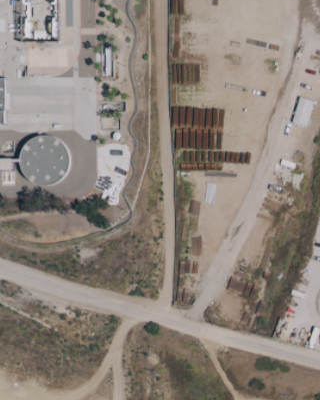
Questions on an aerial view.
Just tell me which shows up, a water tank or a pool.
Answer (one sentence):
The one in the frame is a water tank.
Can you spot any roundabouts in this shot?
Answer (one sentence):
No, this view has no roundabout in it.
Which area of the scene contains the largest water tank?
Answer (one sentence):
The largest water tank appears toward the left of the photo.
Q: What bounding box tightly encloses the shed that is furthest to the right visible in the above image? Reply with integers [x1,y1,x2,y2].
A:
[293,97,316,126]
